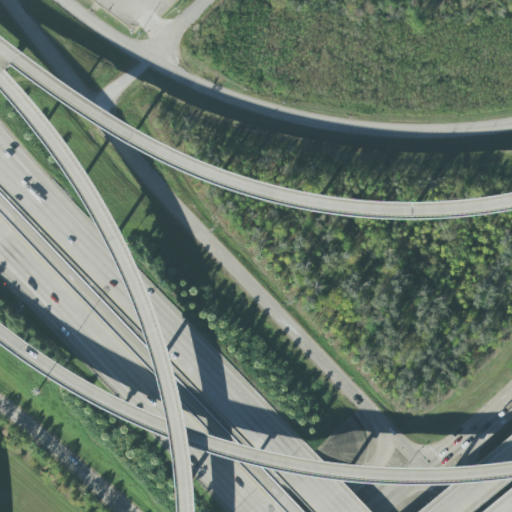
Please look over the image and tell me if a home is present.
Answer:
No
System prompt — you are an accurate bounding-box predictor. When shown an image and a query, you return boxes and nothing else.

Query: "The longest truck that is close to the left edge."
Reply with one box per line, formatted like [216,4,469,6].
[24,180,46,204]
